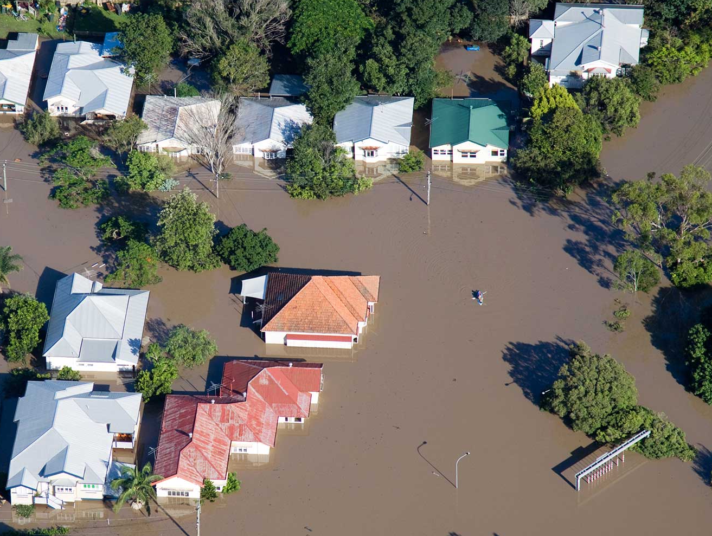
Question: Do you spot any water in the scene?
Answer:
Yes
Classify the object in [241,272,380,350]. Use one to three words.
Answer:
house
